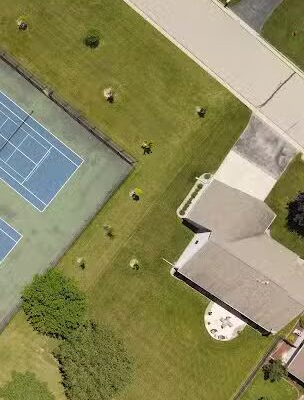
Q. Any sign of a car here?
No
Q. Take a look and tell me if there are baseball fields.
No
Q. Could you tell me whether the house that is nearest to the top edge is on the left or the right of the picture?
right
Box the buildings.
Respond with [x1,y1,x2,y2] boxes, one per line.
[170,177,304,333]
[285,337,304,380]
